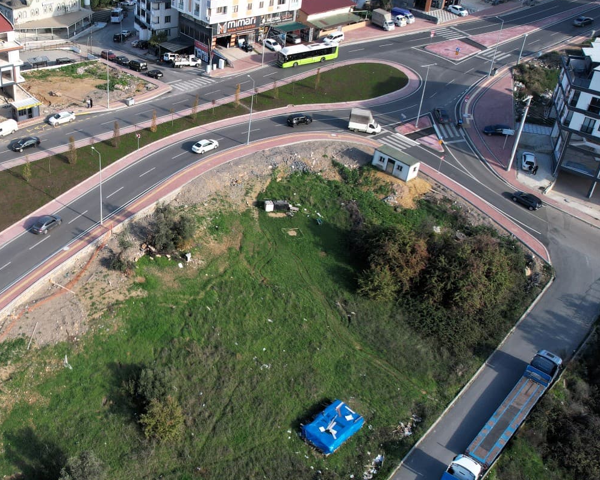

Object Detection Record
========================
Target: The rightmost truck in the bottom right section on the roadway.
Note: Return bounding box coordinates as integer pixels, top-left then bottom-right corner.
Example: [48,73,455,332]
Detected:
[471,338,577,464]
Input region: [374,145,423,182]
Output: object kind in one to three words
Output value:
building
